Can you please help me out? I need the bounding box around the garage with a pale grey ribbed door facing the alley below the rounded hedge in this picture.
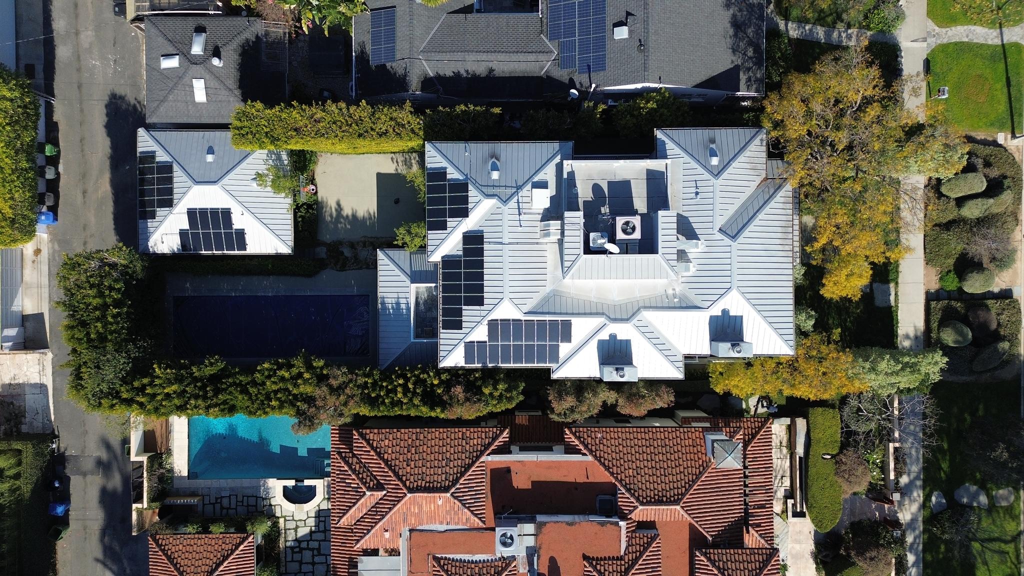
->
[0,245,49,357]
